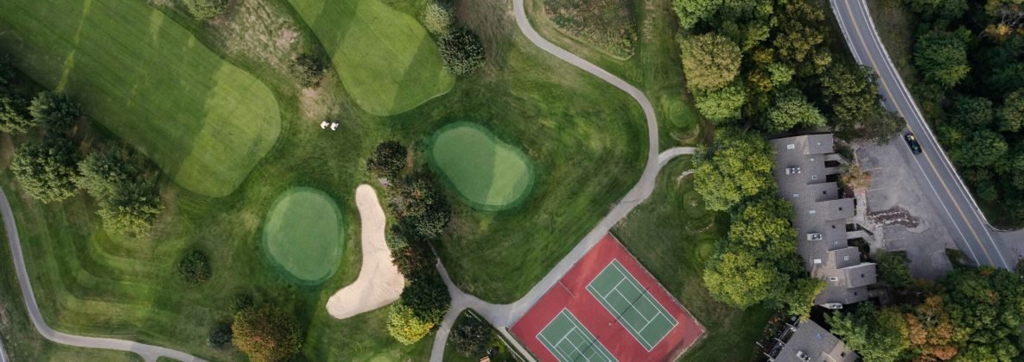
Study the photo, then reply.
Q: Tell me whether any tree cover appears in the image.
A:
Yes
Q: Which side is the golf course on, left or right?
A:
left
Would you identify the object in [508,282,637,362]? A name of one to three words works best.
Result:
tennis court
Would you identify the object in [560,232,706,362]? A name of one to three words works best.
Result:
tennis court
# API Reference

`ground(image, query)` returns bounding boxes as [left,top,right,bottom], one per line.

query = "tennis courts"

[508,282,637,362]
[560,232,706,362]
